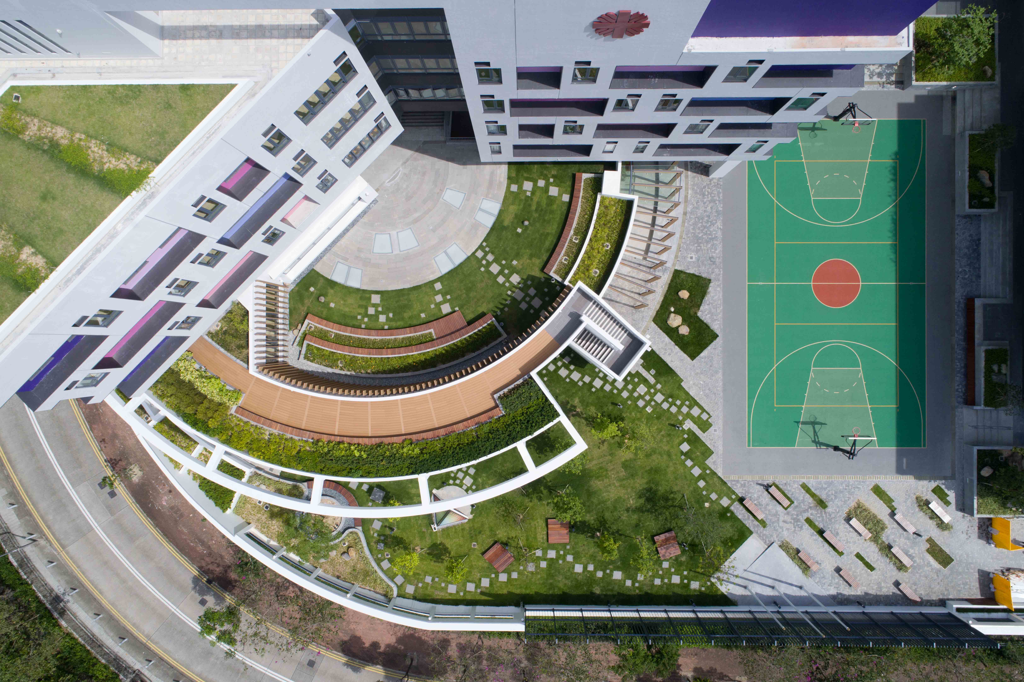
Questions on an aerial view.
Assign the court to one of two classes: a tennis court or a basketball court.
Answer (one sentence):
Looking closely, the court is a basketball court.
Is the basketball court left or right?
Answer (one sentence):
You can find the basketball court on the right side of the picture.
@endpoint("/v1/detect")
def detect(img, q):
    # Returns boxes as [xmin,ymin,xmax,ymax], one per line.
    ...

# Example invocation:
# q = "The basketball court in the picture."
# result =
[748,119,926,447]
